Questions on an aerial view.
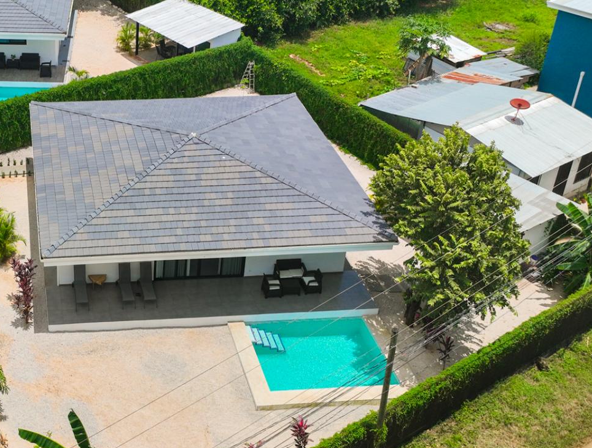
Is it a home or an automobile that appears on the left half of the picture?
home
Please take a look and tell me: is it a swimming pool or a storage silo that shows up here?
swimming pool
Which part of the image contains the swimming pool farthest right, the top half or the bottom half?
bottom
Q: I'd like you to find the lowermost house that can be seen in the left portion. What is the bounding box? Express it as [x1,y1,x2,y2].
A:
[25,90,388,332]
